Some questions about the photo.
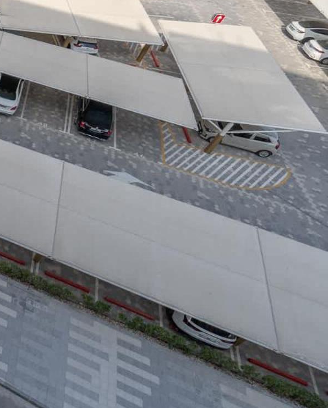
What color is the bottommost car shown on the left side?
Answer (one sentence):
From above, the bottommost car shown on the left side appears black.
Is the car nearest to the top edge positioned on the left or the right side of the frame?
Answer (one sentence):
The car nearest to the top edge is on the right side of the image.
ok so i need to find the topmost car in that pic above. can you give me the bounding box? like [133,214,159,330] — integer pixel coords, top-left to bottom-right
[290,16,328,41]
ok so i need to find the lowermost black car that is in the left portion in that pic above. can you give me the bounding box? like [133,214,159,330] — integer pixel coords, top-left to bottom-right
[76,97,119,139]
